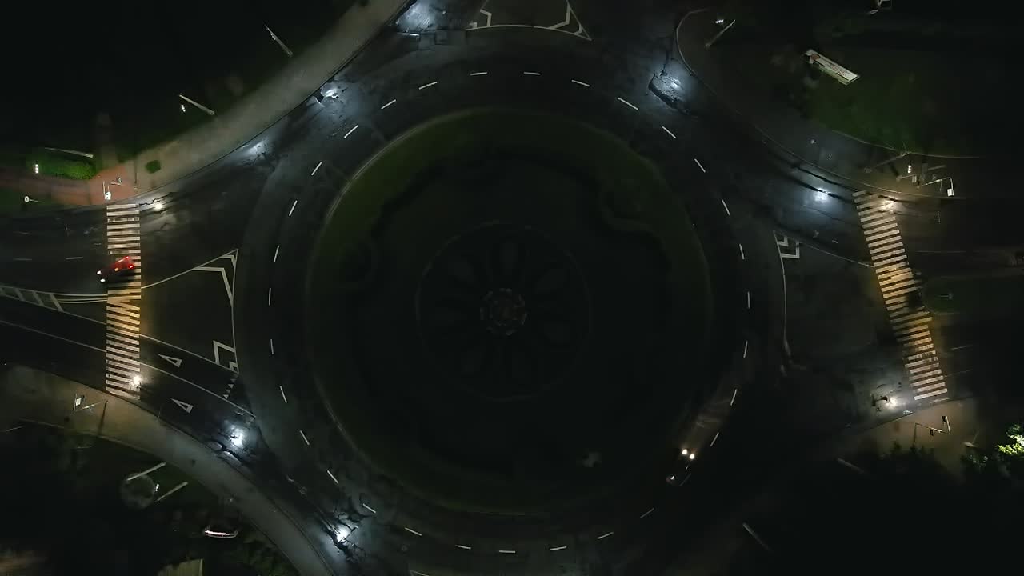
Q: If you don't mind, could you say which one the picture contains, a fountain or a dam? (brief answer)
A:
fountain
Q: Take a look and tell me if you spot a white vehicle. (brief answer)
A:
No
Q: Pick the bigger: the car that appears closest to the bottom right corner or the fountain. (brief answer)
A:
the fountain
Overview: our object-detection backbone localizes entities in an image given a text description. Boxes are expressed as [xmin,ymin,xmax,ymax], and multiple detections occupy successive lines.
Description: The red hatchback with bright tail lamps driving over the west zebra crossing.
[98,255,134,282]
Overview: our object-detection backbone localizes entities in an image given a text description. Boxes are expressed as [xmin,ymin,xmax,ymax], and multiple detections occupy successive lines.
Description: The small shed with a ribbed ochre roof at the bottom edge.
[159,548,210,576]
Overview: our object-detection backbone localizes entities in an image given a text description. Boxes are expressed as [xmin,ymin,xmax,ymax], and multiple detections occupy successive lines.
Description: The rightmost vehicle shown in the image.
[667,450,694,486]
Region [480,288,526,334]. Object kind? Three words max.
fountain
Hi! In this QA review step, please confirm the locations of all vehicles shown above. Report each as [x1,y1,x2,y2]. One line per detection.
[667,450,694,486]
[98,255,134,282]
